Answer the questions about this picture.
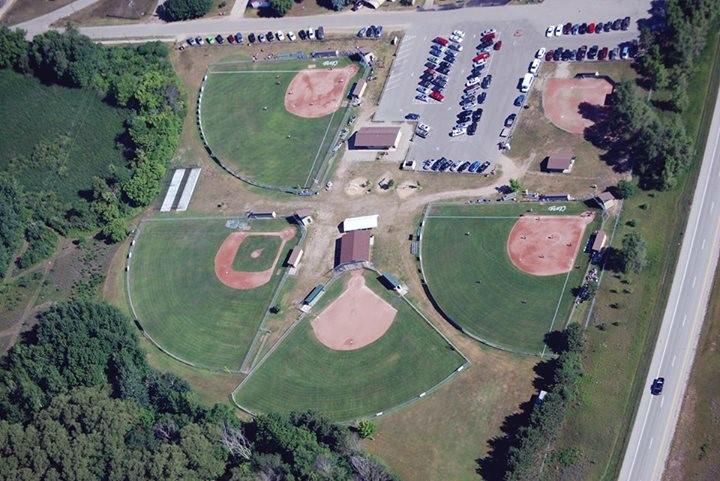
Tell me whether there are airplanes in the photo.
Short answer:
No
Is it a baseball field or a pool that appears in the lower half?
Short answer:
baseball field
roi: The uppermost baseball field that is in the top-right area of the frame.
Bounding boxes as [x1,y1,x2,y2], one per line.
[541,77,615,134]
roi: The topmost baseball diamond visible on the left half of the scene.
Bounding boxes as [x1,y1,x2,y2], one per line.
[197,57,365,193]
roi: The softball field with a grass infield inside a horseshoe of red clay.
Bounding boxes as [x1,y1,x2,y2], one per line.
[127,217,306,372]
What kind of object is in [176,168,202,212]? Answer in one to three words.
shed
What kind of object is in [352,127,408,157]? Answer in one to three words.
building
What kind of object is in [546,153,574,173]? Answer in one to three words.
building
